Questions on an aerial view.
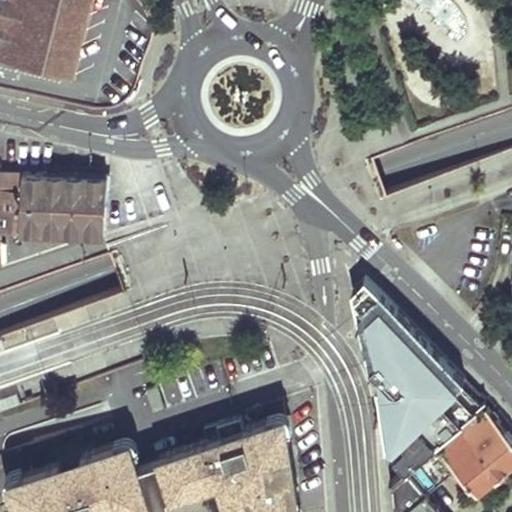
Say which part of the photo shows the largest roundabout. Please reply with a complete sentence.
The largest roundabout is located in the top region of the scene.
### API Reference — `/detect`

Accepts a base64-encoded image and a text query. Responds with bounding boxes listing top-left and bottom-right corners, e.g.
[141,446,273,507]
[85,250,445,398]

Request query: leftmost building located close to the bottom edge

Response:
[3,435,148,512]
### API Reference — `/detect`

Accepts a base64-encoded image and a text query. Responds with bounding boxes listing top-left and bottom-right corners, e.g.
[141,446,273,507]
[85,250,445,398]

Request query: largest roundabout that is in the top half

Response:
[180,33,304,157]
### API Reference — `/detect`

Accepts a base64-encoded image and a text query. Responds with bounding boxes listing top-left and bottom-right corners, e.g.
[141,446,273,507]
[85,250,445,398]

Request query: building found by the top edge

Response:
[0,0,94,82]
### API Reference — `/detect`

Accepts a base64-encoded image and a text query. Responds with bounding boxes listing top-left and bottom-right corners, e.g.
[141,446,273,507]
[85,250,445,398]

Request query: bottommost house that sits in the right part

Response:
[392,474,422,512]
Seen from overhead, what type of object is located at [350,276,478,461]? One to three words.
building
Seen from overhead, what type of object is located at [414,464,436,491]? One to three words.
swimming pool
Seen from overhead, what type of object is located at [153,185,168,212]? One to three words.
vehicle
